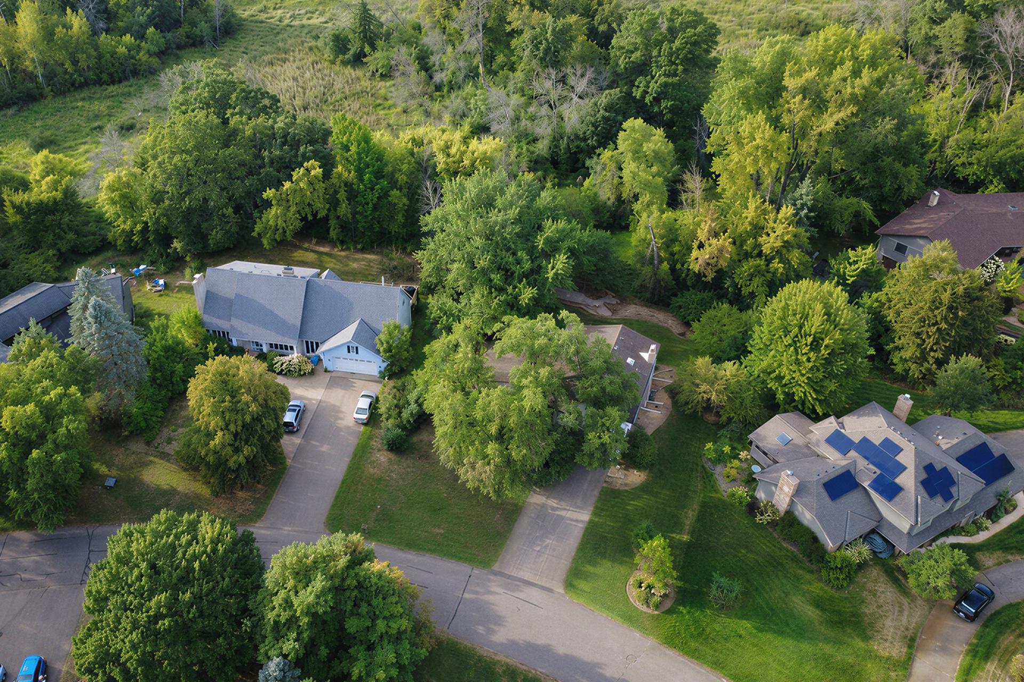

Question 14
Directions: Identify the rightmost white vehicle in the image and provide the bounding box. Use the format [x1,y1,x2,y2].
[352,390,374,423]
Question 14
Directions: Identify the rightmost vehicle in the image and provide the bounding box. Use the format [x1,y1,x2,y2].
[954,579,1000,626]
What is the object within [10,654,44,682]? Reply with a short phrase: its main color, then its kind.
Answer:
blue car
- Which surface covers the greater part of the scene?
trees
